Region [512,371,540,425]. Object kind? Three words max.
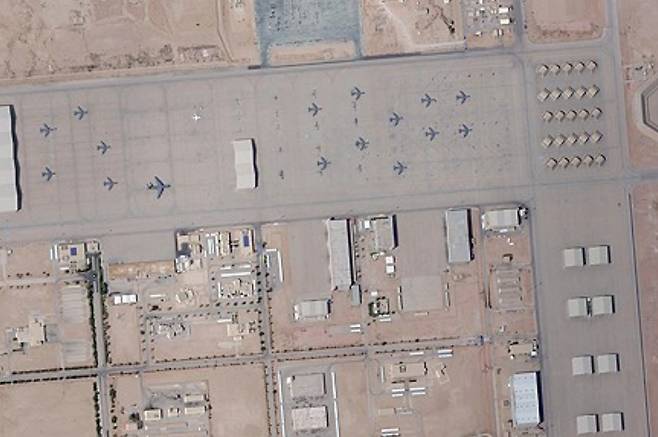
building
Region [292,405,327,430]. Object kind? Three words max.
building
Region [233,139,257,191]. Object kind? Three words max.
hangar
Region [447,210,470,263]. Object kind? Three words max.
hangar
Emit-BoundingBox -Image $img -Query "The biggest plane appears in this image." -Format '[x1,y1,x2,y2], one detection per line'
[147,176,171,198]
